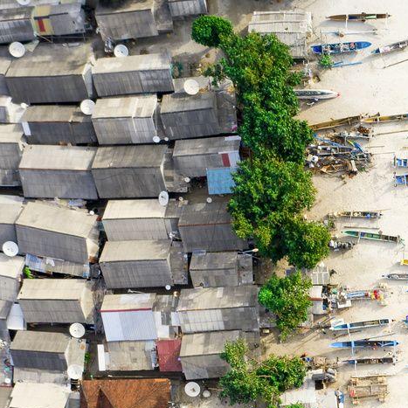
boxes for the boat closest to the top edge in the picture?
[321,13,397,33]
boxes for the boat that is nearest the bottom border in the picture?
[339,358,404,378]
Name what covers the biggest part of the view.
buildings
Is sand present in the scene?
Yes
